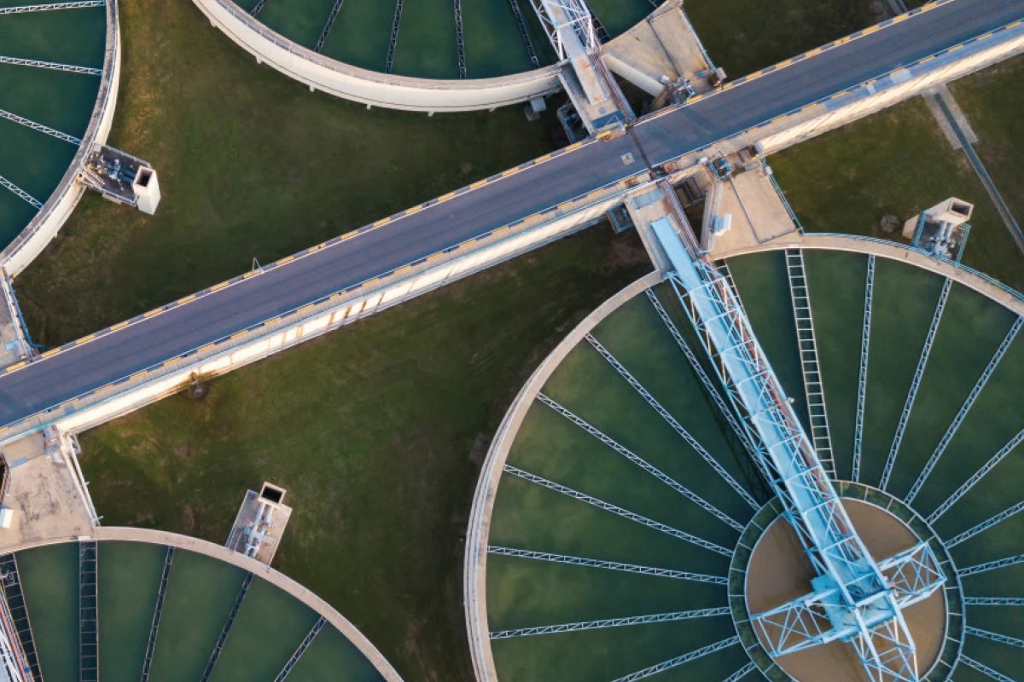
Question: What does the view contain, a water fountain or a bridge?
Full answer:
It is a bridge that can be seen here.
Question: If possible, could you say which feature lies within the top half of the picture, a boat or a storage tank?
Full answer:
What appears within the top half of the picture is a storage tank.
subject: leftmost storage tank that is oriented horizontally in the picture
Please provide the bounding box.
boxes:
[0,523,403,682]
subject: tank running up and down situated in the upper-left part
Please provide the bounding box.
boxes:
[0,0,123,280]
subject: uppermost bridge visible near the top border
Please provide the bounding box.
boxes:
[528,0,611,106]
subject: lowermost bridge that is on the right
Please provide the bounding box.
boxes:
[648,214,918,682]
